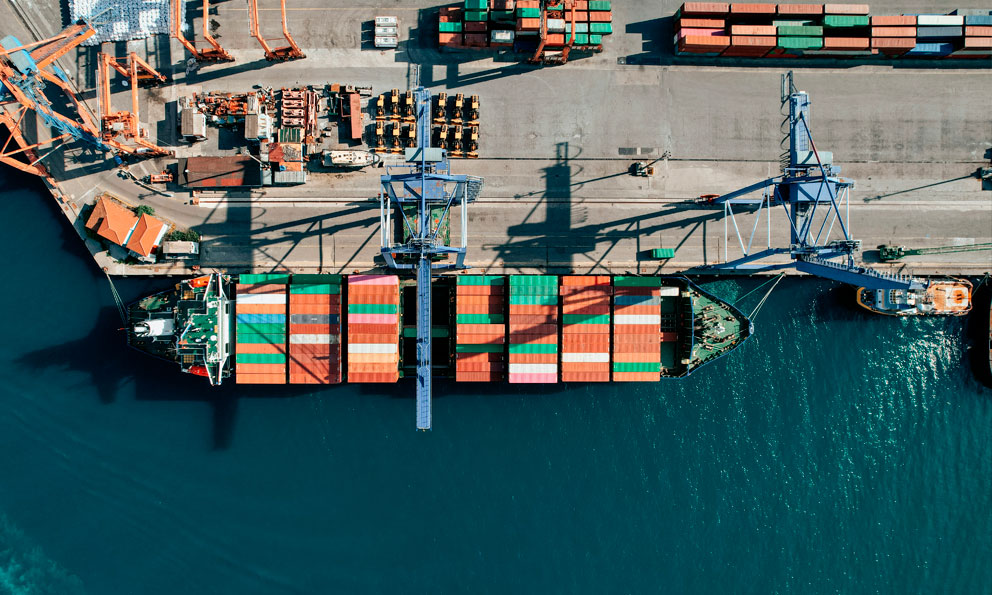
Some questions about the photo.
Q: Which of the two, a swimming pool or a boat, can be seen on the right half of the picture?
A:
boat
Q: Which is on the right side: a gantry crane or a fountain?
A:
gantry crane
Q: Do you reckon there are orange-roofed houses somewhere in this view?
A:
Yes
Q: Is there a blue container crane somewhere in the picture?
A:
Yes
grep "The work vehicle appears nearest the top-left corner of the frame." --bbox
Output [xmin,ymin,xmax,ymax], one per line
[140,172,174,184]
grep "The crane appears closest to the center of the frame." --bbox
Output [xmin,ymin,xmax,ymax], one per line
[377,57,480,432]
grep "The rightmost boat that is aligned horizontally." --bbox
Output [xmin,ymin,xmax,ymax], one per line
[852,279,973,316]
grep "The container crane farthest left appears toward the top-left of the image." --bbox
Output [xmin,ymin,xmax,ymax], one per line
[0,8,122,181]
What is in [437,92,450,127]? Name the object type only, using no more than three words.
vehicle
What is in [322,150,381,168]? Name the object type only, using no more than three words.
boat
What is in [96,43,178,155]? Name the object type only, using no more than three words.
container crane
